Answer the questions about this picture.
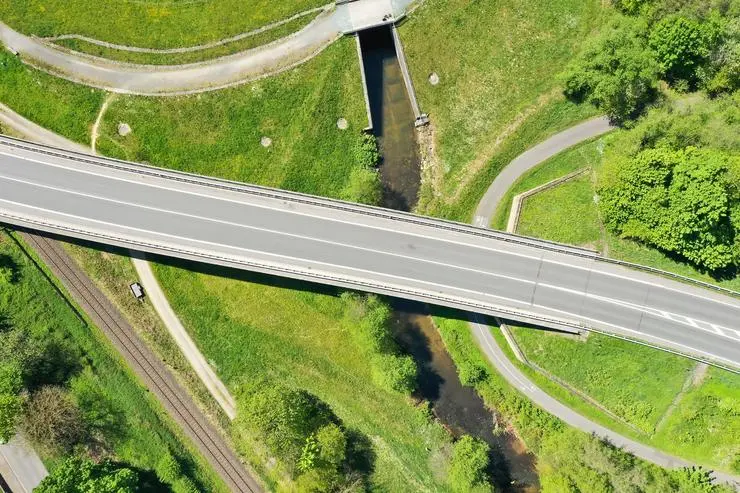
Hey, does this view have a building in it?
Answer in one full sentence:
No, the picture doesn't show any building.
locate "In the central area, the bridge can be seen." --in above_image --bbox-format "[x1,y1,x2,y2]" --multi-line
[0,136,603,335]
